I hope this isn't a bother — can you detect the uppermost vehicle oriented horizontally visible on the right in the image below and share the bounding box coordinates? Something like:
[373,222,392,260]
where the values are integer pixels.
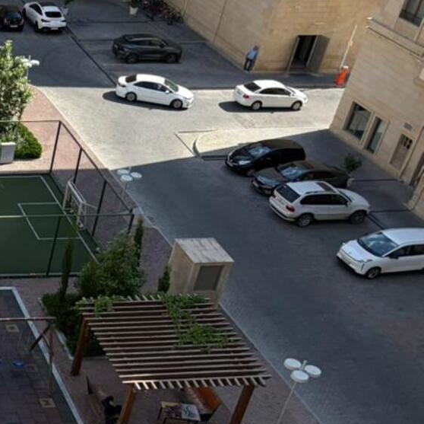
[233,77,312,109]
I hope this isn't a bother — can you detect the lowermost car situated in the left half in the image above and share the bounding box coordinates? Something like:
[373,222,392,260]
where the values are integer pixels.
[118,71,198,108]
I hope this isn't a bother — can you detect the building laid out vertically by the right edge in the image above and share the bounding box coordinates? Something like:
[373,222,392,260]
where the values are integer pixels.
[329,0,424,214]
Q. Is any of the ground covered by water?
No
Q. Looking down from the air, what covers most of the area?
paved ground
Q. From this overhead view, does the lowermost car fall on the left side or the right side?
right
